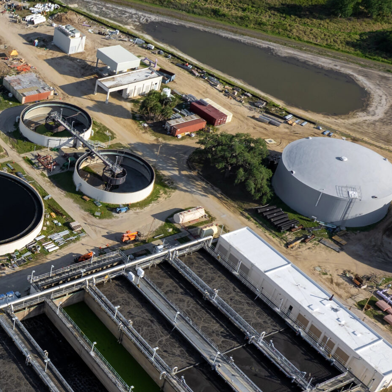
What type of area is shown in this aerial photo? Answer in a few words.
industrial area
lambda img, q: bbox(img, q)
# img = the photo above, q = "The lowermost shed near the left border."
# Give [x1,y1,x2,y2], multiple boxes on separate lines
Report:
[2,72,54,104]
